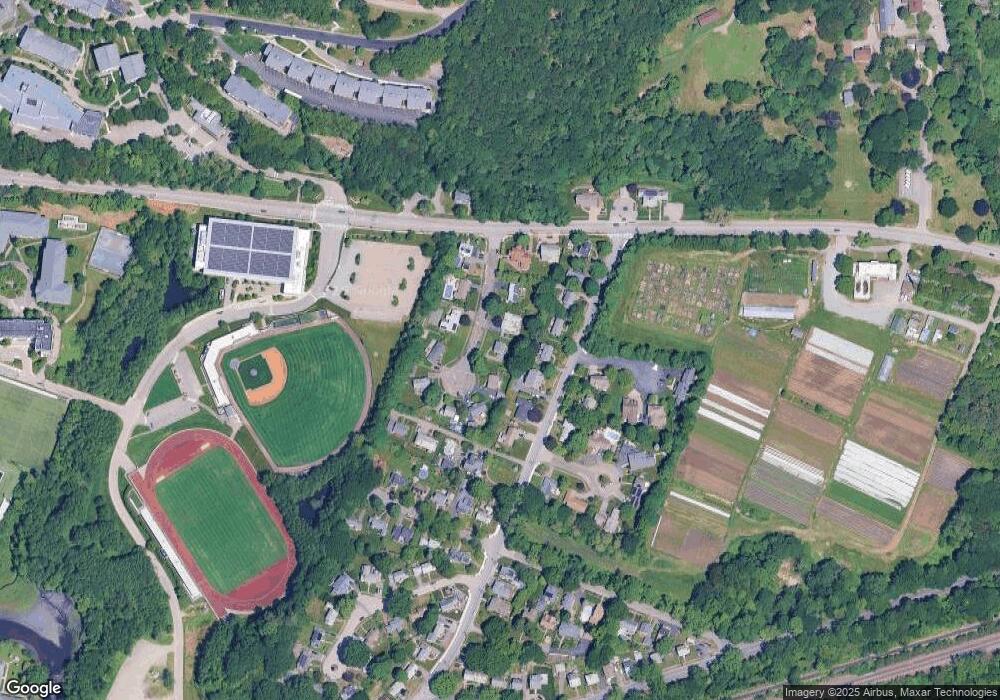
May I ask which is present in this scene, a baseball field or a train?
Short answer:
baseball field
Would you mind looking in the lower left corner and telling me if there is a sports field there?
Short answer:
Yes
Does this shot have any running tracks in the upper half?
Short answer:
No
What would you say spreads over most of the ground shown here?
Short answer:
trees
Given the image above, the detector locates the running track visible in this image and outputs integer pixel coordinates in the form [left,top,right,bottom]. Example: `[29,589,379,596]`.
[128,425,300,618]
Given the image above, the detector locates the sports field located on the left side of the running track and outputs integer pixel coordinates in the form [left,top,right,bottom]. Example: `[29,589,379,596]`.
[0,380,65,532]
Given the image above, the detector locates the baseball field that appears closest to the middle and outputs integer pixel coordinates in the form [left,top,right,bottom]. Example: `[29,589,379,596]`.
[216,316,375,474]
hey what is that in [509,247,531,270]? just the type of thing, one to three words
house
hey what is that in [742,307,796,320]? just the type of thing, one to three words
greenhouse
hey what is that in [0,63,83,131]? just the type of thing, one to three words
building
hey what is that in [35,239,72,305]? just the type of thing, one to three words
building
